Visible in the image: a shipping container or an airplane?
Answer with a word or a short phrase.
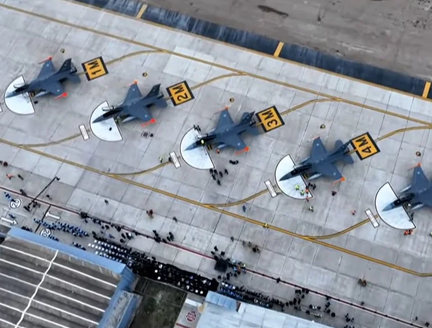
airplane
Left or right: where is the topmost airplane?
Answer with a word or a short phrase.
left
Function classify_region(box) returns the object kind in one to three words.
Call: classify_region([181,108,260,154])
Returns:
airplane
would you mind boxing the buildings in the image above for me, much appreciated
[195,292,326,328]
[0,227,140,328]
